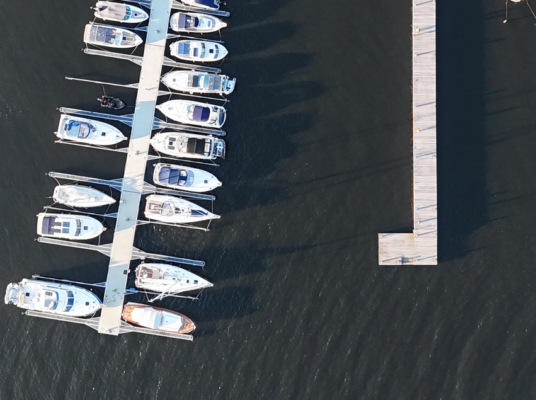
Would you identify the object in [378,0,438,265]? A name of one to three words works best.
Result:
pier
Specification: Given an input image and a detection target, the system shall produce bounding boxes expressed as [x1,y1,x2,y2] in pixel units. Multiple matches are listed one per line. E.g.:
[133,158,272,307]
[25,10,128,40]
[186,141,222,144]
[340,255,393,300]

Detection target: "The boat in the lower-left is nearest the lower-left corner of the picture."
[6,273,109,320]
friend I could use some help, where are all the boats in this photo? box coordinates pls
[39,211,109,241]
[144,127,230,163]
[84,25,145,52]
[47,181,117,214]
[151,97,231,130]
[6,273,109,320]
[120,297,197,336]
[169,12,231,35]
[185,0,230,12]
[90,1,149,25]
[158,67,238,98]
[151,163,225,194]
[54,116,130,150]
[168,39,228,63]
[93,94,132,111]
[144,191,223,231]
[135,262,214,302]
